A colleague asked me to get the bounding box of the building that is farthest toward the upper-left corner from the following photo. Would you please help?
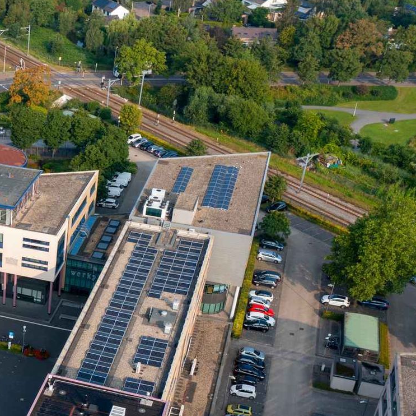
[82,0,125,21]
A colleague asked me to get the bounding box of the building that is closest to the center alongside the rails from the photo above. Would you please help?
[128,150,271,314]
